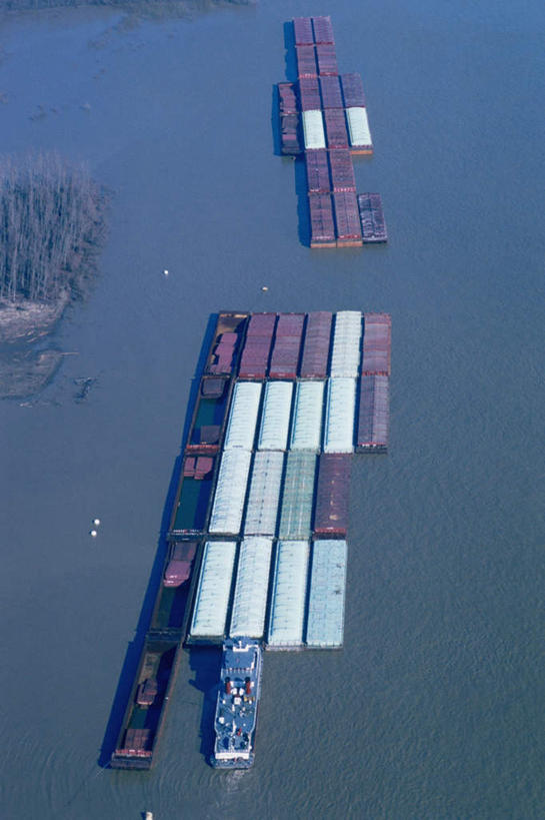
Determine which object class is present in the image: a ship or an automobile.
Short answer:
ship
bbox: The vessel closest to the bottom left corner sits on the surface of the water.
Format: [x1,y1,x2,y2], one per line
[113,637,182,767]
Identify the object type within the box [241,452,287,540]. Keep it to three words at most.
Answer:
ship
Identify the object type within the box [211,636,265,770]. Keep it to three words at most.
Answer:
boat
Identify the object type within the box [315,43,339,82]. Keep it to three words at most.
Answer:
ship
